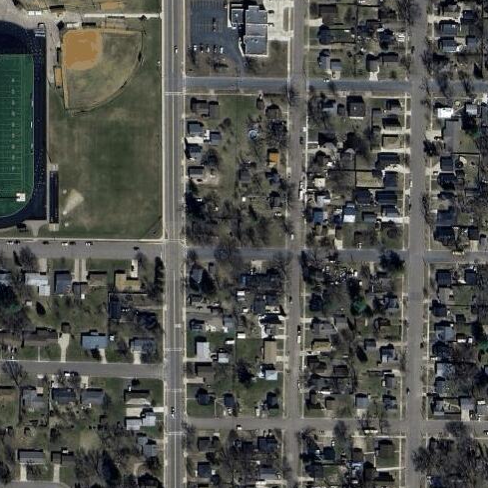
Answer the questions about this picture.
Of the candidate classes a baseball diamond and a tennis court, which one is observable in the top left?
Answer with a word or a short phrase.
baseball diamond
